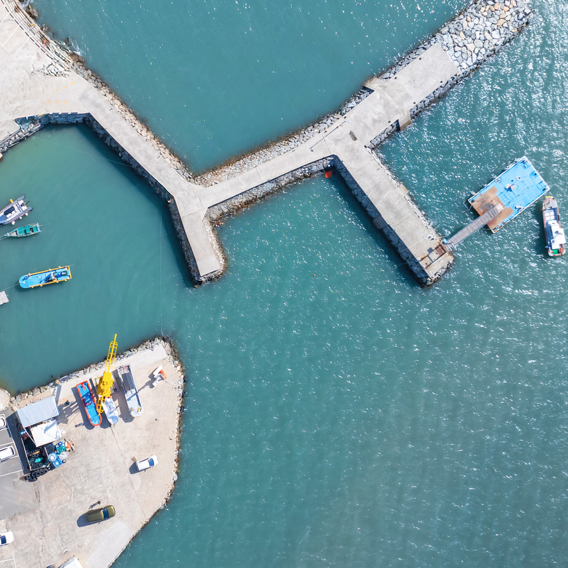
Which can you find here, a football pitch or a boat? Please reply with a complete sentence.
Visible in the photo is a boat.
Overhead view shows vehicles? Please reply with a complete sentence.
Yes, the picture does show a vehicle.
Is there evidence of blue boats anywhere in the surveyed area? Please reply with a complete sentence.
Yes, there's a blue boat down there.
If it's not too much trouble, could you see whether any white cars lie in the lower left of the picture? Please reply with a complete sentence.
Yes, in the lower left of the picture there is a white car.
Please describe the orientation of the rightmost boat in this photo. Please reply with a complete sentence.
From this overhead view, the rightmost boat appears to run up and down.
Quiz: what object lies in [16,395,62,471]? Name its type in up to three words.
shed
